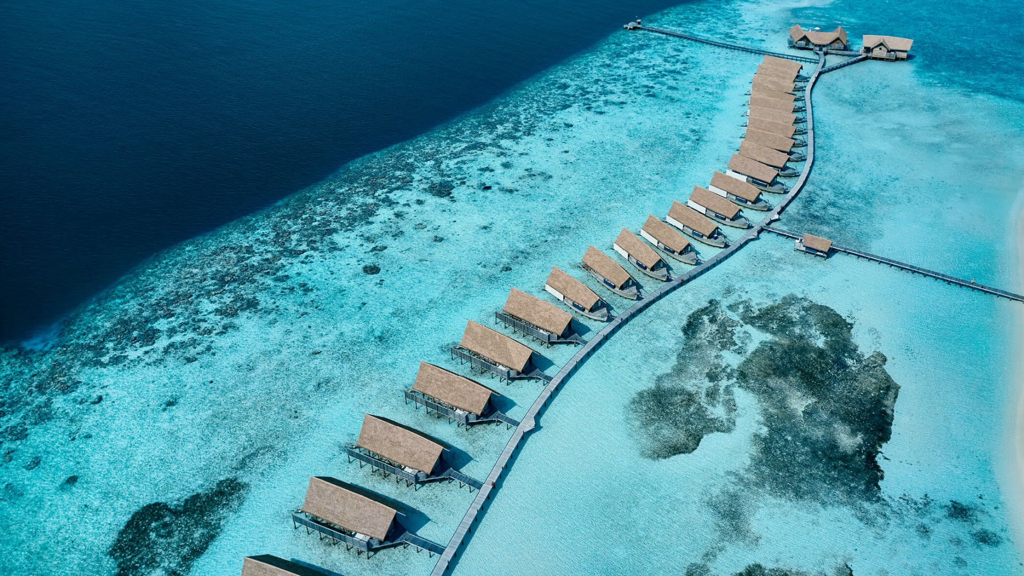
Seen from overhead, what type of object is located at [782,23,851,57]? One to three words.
building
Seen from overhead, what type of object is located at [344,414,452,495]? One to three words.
house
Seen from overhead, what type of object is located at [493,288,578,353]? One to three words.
house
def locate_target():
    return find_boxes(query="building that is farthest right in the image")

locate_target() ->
[854,35,914,66]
